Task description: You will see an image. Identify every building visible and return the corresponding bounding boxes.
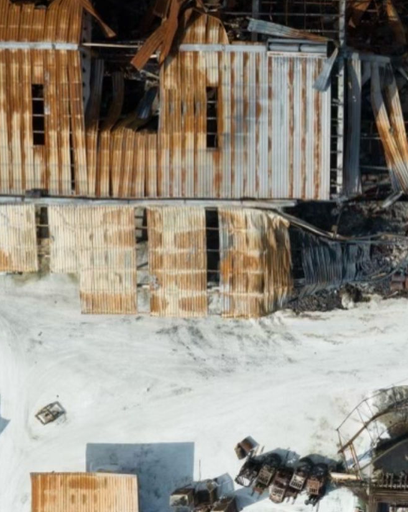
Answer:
[30,472,138,512]
[0,0,408,318]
